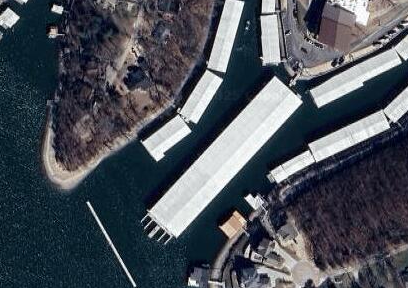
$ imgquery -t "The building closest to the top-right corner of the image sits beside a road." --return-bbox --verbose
[317,0,370,49]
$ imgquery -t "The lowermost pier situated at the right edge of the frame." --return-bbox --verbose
[309,110,389,161]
